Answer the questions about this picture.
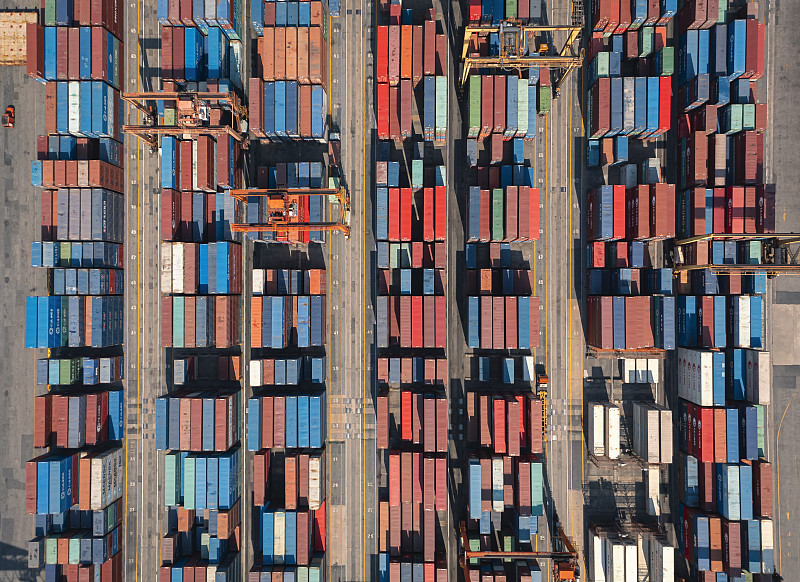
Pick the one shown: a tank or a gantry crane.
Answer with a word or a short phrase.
gantry crane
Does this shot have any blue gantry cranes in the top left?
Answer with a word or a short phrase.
No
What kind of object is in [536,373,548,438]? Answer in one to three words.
vehicle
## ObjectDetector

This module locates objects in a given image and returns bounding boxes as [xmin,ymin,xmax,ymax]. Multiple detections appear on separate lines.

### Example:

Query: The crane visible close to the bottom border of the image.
[454,516,583,582]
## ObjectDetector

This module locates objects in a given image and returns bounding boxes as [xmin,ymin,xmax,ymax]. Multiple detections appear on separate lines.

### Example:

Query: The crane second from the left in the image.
[228,187,357,242]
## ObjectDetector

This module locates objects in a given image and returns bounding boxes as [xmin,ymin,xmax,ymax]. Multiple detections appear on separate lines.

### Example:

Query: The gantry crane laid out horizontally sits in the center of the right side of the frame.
[666,230,800,278]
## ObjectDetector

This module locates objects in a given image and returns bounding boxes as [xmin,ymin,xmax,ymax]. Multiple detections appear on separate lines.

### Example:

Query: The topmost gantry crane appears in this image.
[454,20,580,94]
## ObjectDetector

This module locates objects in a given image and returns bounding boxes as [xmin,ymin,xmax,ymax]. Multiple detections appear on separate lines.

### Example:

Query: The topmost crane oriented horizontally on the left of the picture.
[116,92,252,158]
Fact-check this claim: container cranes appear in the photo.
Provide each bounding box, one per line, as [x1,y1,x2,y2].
[454,20,580,94]
[454,516,583,582]
[666,230,800,278]
[228,187,357,242]
[116,92,252,158]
